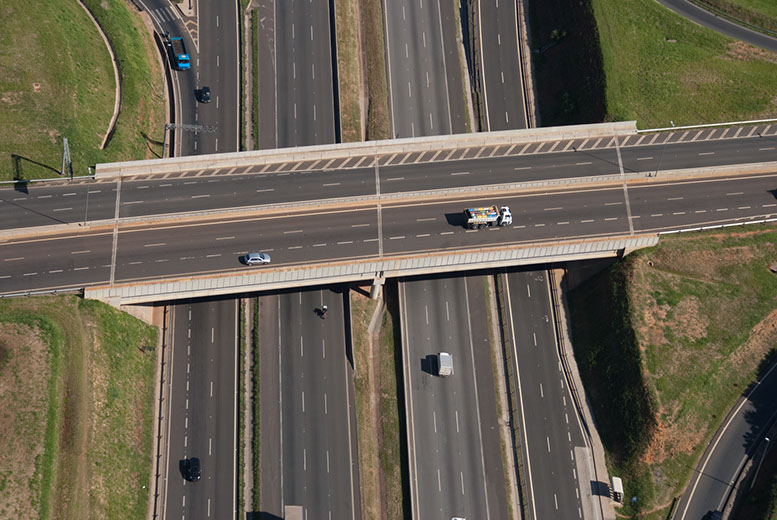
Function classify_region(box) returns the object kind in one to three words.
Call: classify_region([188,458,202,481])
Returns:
vehicle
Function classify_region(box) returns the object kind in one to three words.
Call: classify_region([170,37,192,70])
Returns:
truck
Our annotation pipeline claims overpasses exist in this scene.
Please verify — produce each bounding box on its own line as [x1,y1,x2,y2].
[86,121,659,323]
